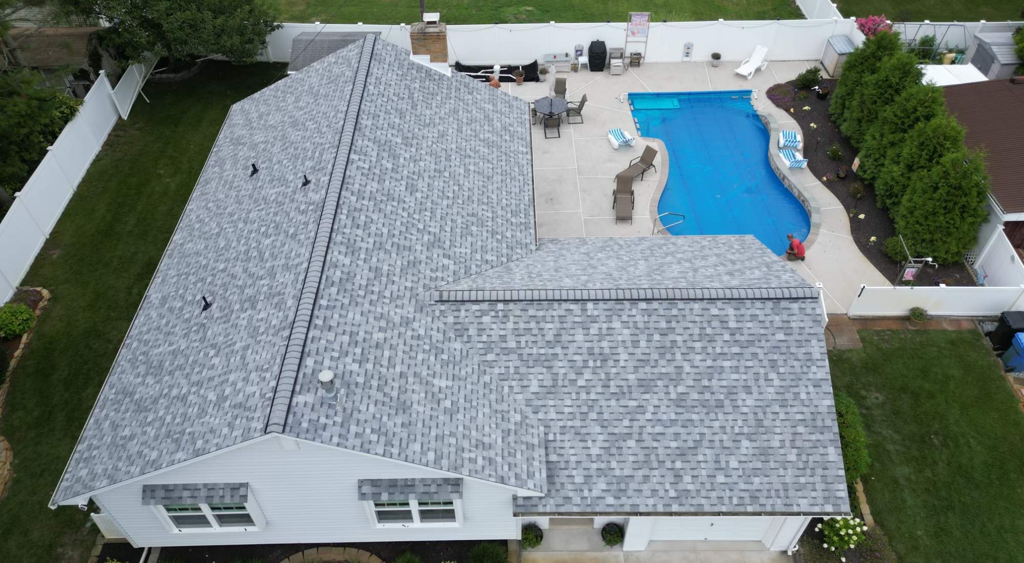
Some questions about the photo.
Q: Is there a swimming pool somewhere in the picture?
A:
Yes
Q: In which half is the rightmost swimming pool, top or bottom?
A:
top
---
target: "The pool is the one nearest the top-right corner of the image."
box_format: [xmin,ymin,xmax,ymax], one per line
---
[628,92,821,264]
